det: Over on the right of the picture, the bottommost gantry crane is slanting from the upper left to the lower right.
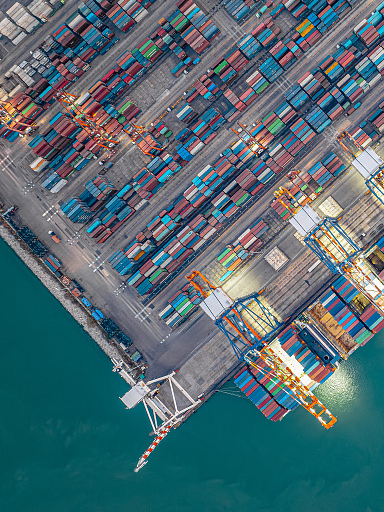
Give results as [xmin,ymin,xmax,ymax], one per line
[184,270,340,435]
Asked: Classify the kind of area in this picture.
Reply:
port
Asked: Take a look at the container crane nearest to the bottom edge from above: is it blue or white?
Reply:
white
